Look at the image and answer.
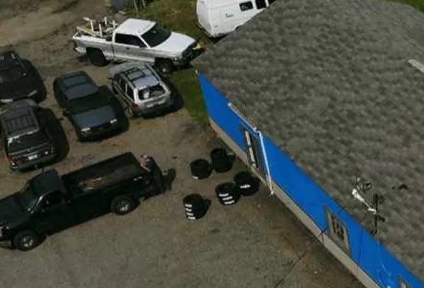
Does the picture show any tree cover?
No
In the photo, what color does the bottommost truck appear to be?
black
